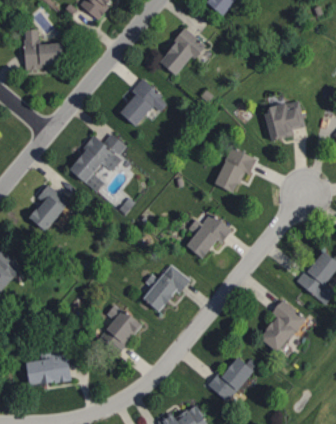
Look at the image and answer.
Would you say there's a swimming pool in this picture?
Yes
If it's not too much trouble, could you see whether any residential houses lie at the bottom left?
Yes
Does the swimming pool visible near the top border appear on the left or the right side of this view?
left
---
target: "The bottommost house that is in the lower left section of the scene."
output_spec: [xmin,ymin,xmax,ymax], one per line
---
[25,353,72,388]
